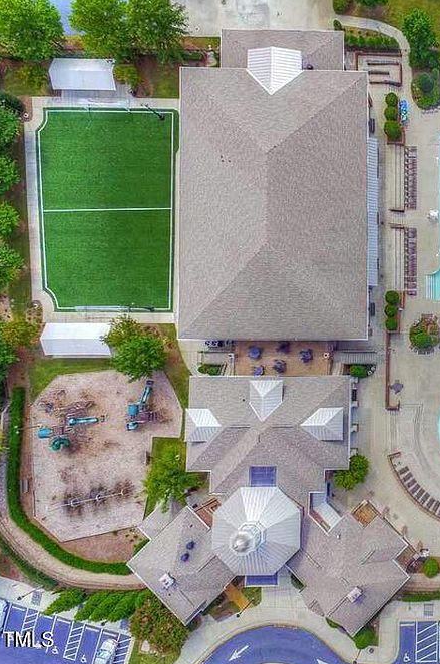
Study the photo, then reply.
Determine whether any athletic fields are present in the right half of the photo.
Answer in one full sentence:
No, looking in the right half of the photo, there is no athletic field.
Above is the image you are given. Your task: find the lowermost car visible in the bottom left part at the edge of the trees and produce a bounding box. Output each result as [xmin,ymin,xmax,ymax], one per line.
[96,632,119,664]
